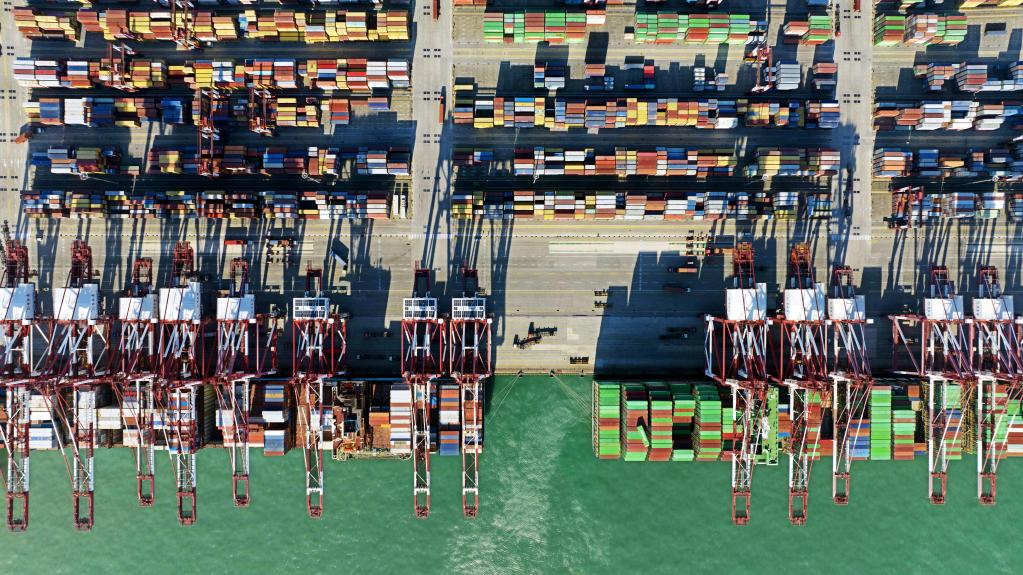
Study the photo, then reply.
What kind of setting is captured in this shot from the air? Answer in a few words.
port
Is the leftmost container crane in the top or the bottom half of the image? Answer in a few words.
bottom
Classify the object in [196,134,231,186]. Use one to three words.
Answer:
crane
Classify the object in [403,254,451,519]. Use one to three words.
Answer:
container crane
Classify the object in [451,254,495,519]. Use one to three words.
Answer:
container crane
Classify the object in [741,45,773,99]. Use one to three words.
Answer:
crane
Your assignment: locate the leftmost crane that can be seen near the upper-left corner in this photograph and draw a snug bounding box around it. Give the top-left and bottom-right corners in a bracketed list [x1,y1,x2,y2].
[106,45,146,99]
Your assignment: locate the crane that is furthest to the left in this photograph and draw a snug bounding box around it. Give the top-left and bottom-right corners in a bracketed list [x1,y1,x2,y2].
[0,241,87,529]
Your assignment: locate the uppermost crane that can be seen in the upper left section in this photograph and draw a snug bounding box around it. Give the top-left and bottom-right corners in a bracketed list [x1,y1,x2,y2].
[171,0,207,55]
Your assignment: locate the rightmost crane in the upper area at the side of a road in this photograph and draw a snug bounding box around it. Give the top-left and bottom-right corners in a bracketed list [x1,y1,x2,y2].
[877,184,916,229]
